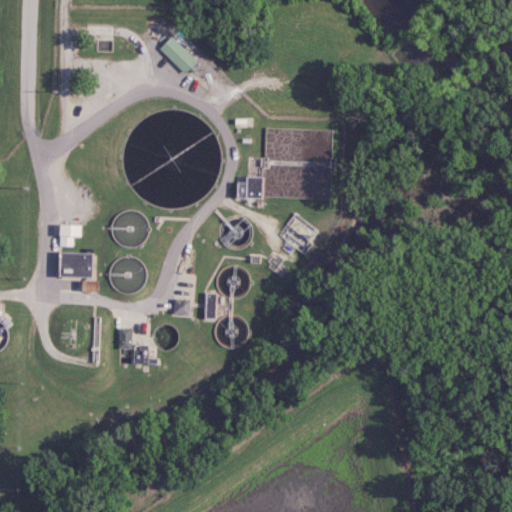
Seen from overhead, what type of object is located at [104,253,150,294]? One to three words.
storage tank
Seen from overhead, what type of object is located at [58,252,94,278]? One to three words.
building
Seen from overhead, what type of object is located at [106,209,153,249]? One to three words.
storage tank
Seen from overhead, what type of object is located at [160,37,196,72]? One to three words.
shed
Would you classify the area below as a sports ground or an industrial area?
industrial area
